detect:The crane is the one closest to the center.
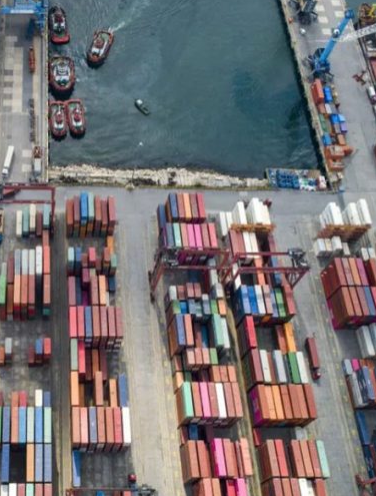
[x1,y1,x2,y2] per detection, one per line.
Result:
[145,247,233,302]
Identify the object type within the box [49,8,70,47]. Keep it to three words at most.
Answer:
boat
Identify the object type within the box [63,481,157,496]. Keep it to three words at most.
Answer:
container crane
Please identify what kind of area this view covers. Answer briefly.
port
